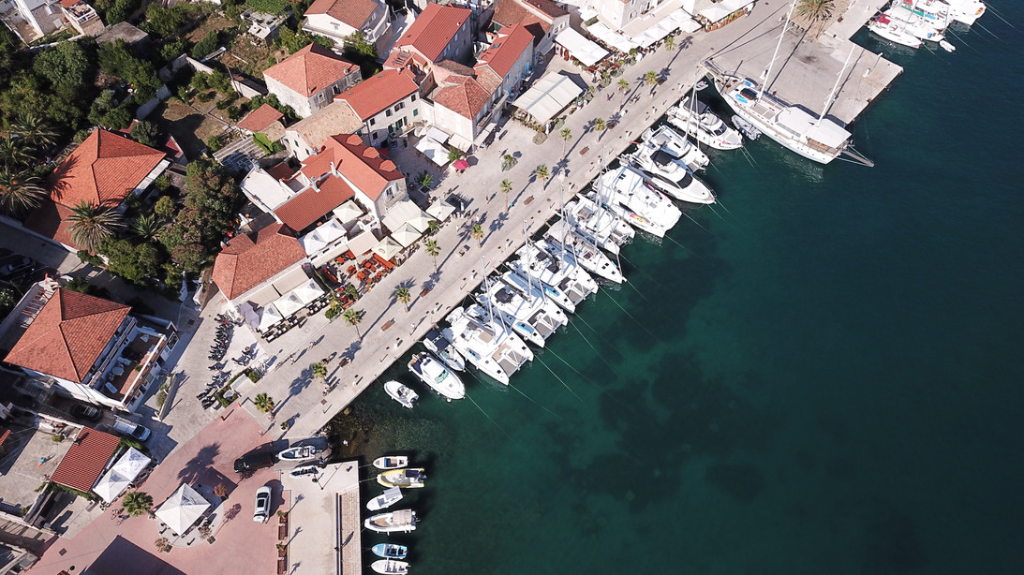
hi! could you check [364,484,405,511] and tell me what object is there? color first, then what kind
white boat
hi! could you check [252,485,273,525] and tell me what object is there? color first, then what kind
white car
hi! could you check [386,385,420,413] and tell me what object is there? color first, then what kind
white boat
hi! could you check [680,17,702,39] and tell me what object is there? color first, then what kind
white umbrella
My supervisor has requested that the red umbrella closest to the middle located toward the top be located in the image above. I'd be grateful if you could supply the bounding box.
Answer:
[454,160,469,176]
